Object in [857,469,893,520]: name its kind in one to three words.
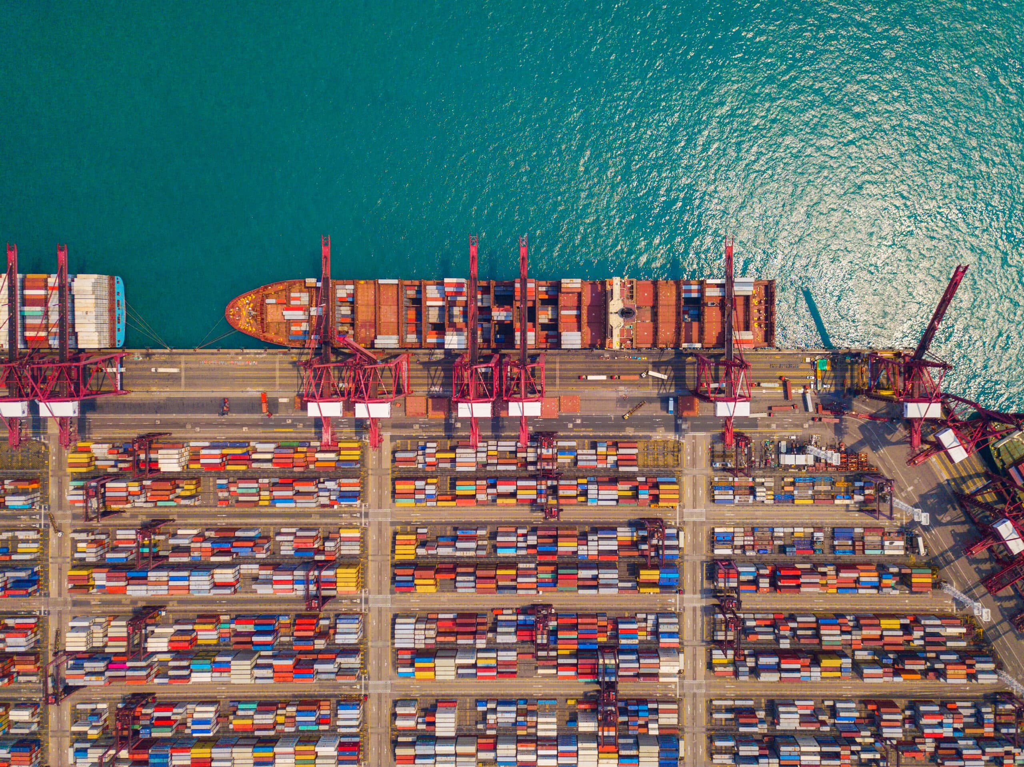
container crane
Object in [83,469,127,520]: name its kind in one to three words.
container crane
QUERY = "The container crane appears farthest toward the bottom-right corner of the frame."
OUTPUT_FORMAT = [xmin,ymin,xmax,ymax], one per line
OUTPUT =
[982,690,1024,753]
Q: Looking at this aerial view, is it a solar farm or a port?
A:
port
